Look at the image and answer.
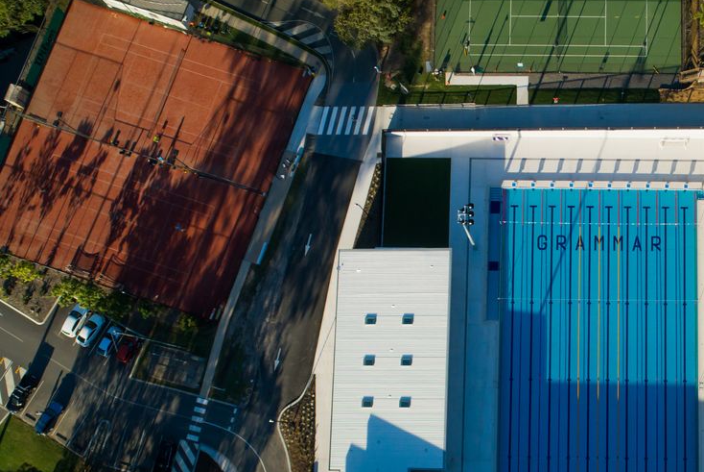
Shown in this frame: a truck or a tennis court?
tennis court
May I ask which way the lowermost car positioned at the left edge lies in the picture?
diagonally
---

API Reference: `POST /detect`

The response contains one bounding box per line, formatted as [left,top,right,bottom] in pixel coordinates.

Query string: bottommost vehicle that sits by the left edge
[29,394,65,436]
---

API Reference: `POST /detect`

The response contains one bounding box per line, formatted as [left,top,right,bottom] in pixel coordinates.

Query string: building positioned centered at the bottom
[330,248,452,472]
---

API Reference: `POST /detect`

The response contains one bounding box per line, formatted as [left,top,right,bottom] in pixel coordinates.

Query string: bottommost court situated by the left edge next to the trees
[0,114,262,317]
